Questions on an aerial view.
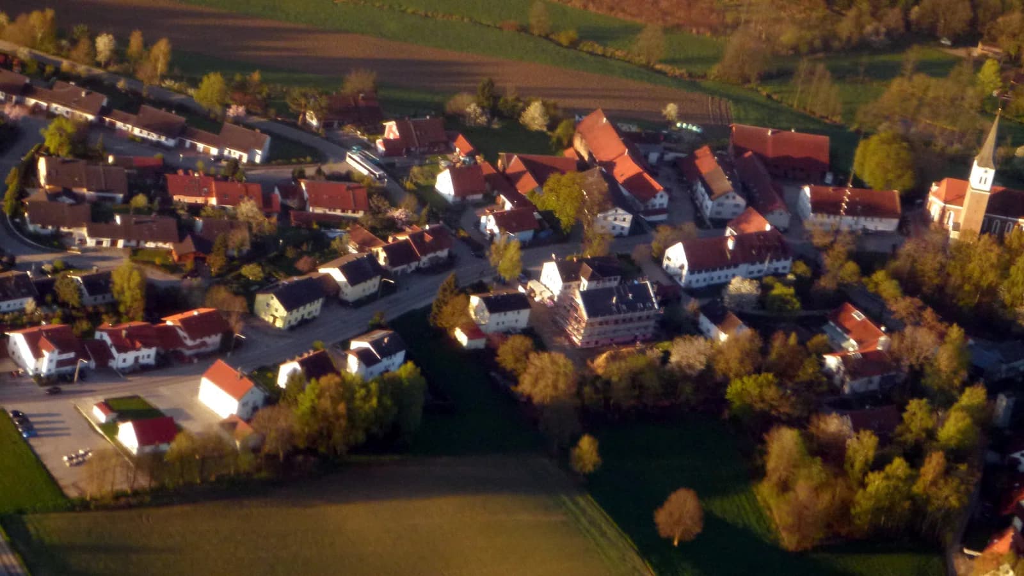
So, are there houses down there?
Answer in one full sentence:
Yes, the image includes a house.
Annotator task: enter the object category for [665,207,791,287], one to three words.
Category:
house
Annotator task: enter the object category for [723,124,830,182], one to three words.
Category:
barn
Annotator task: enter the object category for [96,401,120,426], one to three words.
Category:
shed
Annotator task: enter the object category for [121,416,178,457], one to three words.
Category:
building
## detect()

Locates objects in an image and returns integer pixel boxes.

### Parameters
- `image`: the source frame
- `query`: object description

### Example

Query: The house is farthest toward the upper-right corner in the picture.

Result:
[979,43,1003,62]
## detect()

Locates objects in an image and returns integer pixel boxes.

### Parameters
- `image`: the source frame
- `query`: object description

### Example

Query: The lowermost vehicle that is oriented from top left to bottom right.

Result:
[528,277,556,303]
